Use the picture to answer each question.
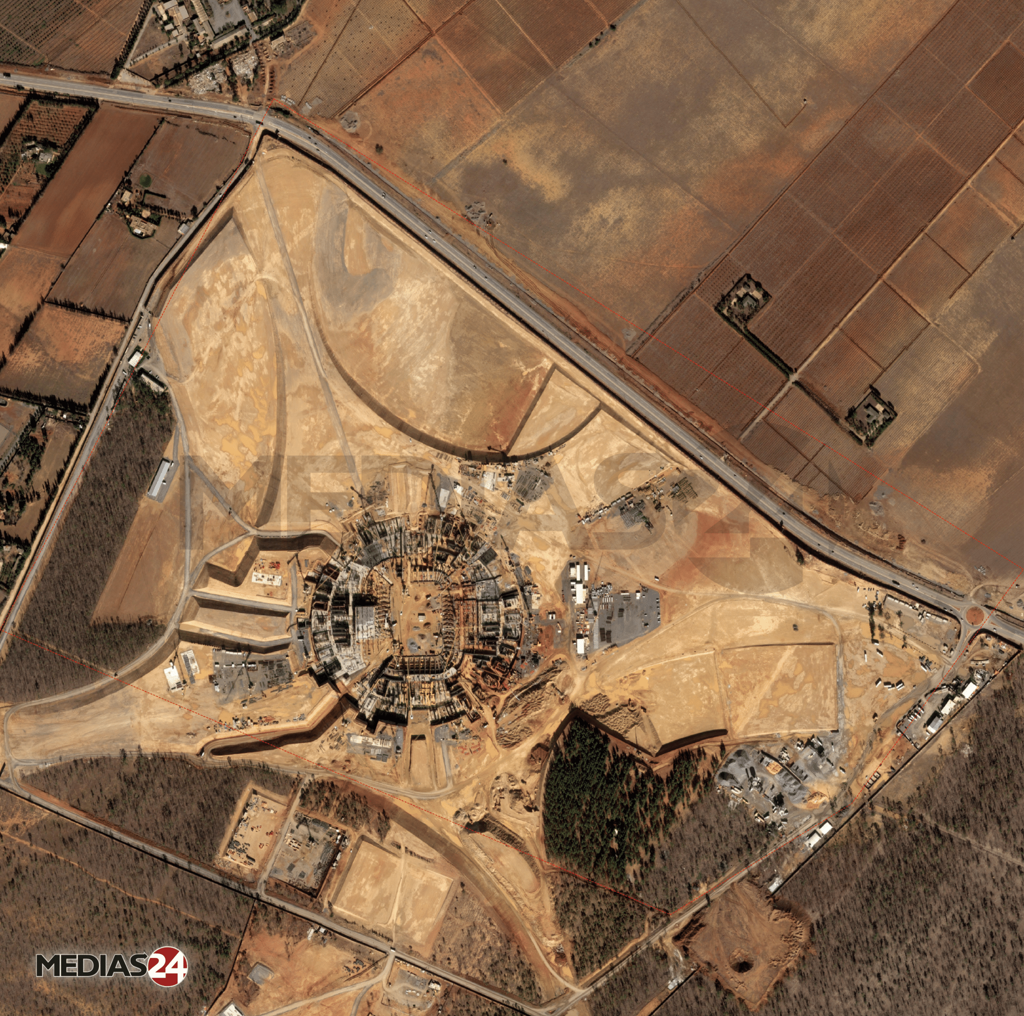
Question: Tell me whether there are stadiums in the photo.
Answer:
Yes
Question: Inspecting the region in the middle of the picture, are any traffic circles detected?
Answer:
No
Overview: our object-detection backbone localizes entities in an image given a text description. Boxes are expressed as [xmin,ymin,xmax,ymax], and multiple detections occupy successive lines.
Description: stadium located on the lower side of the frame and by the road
[314,510,526,729]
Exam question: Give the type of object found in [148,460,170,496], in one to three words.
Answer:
building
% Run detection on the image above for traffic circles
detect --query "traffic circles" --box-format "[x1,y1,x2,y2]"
[952,601,999,635]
